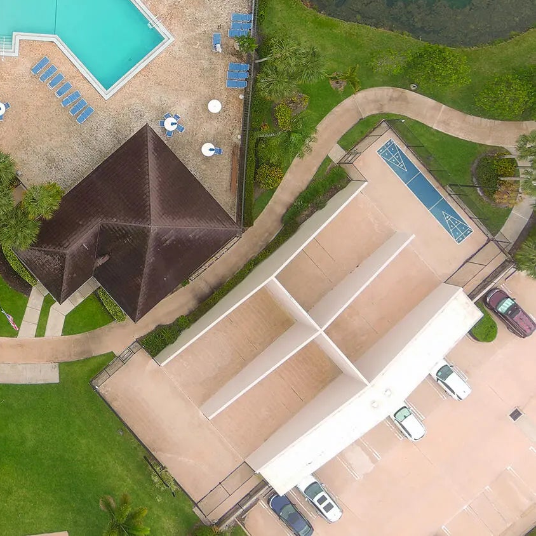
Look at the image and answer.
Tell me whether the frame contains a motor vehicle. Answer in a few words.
Yes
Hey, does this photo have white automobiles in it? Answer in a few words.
Yes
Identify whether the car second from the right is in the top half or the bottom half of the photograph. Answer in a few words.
bottom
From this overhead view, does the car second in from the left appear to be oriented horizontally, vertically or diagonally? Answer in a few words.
diagonally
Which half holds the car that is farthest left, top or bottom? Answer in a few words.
bottom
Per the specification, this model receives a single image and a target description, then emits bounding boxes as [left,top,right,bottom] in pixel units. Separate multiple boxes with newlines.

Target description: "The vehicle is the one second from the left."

[295,474,343,523]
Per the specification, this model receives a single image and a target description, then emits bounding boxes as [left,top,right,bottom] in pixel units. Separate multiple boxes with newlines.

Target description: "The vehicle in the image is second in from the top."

[427,358,471,401]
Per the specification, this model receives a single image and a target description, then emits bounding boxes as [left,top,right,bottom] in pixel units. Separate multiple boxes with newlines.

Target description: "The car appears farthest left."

[271,493,318,536]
